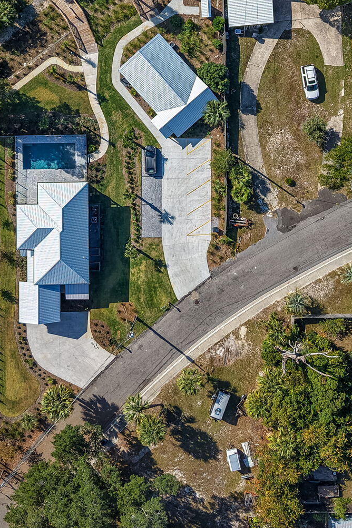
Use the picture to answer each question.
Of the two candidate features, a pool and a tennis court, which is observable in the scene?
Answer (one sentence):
It is a pool that can be seen here.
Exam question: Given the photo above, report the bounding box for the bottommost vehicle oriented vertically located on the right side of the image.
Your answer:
[227,445,241,476]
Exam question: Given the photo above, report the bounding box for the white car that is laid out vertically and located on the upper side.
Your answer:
[300,65,319,100]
